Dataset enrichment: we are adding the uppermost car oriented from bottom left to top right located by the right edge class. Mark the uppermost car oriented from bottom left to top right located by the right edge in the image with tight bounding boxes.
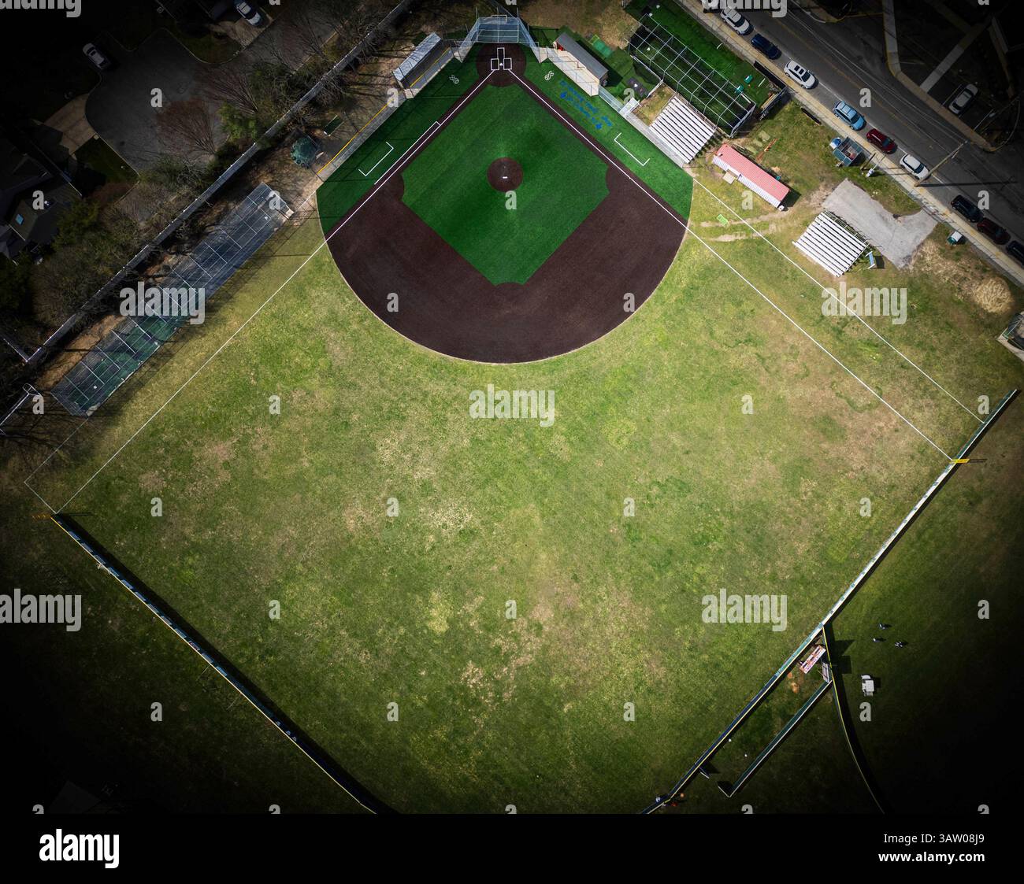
[949,84,977,114]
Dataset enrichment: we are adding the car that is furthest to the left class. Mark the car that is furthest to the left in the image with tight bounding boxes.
[86,42,109,71]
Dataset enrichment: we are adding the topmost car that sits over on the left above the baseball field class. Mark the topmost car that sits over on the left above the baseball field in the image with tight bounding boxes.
[235,0,261,28]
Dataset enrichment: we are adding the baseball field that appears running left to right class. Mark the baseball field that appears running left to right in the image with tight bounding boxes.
[24,42,983,513]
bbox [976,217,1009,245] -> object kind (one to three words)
car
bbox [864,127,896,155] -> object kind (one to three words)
car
